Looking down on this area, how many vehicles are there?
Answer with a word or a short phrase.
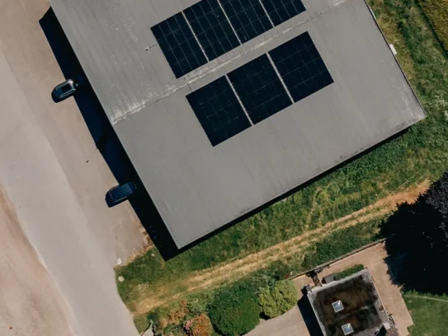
2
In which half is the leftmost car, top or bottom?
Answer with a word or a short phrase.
top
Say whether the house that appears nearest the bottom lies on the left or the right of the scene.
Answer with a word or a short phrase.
right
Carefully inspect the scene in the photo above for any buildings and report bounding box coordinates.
[51,0,425,250]
[307,265,398,336]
